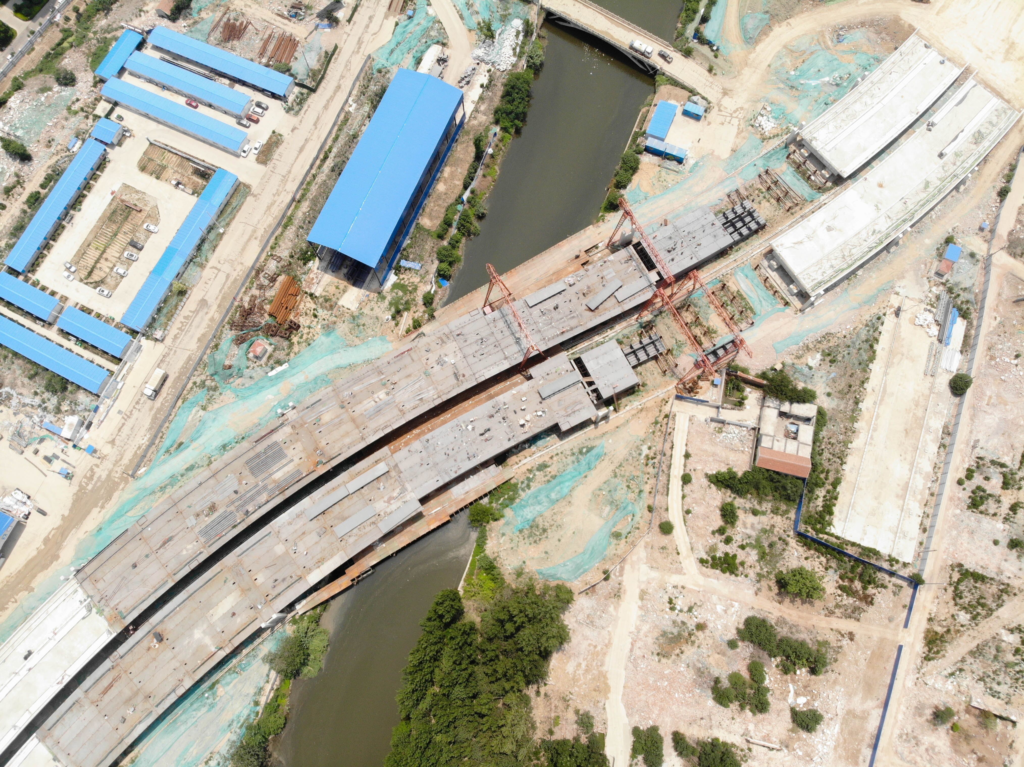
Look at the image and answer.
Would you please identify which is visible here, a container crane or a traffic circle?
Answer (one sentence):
The one in the frame is a container crane.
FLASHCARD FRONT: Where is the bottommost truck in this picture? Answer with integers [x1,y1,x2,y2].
[140,362,169,401]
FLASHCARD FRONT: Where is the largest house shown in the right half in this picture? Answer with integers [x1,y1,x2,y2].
[754,396,818,479]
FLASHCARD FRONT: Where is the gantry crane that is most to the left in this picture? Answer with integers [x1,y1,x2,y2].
[480,264,551,371]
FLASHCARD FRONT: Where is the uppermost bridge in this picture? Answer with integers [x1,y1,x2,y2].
[530,0,709,92]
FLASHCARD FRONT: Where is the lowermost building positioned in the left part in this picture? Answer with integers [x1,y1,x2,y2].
[0,507,31,569]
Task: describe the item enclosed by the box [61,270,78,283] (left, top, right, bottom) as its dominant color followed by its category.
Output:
white vehicle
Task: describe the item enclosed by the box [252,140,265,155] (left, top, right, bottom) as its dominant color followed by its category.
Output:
white vehicle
